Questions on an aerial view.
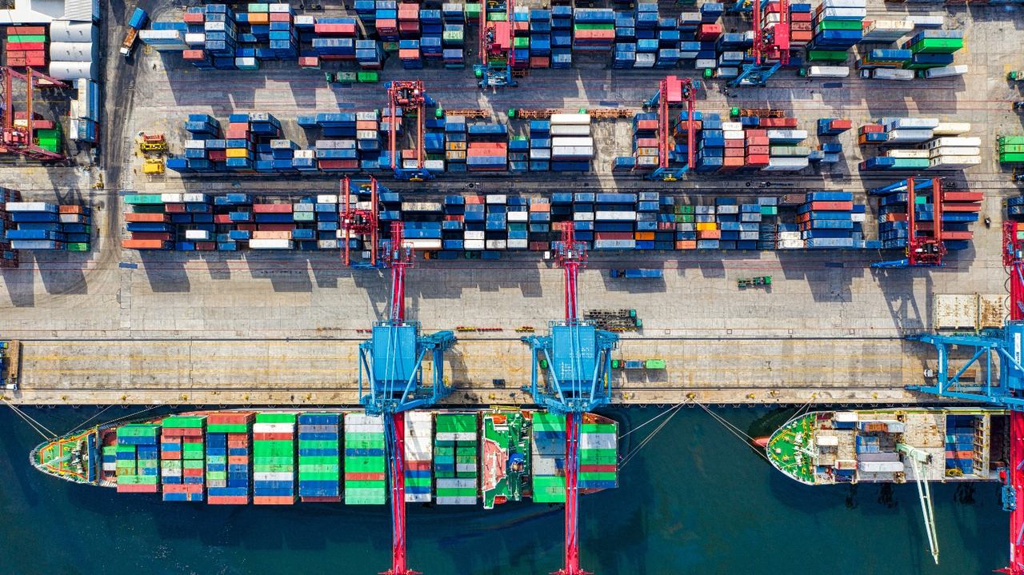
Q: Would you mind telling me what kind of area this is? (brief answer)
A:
port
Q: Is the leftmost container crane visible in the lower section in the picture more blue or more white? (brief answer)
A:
blue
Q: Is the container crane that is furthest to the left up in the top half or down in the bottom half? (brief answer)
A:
top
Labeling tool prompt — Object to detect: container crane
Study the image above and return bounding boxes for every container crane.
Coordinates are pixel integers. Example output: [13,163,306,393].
[644,72,697,184]
[341,174,396,272]
[387,75,437,185]
[724,0,794,90]
[864,173,944,272]
[359,224,457,575]
[904,223,1024,575]
[520,223,619,575]
[478,0,517,90]
[2,62,76,163]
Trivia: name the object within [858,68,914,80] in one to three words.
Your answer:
vehicle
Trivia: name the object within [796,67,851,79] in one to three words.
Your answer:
vehicle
